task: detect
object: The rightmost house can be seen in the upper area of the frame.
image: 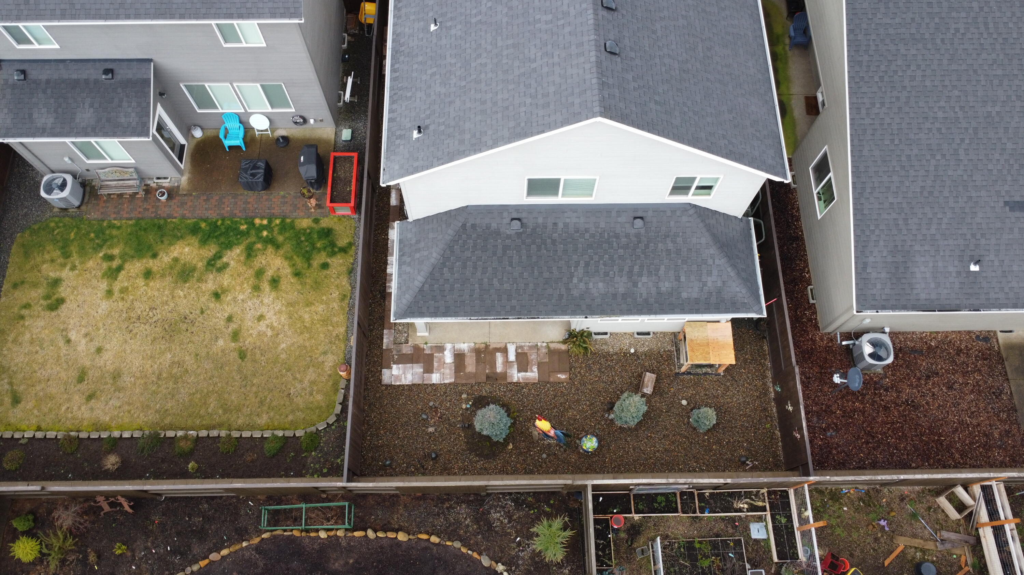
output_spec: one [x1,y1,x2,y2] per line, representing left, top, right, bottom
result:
[787,0,1024,345]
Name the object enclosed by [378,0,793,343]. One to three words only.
house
